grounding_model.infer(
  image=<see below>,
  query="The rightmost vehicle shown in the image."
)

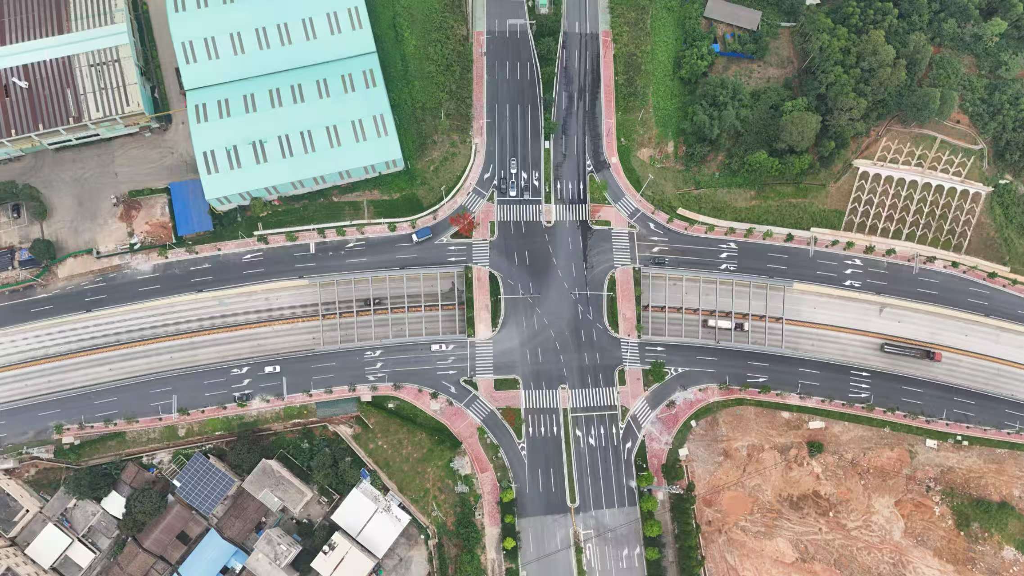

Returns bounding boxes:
[879,343,943,362]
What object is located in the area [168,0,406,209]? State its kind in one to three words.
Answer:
warehouse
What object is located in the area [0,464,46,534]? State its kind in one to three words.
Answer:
building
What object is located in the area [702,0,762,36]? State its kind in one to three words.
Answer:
shed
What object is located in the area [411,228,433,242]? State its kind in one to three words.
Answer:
vehicle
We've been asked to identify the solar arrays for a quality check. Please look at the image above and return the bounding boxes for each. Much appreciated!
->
[175,451,240,517]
